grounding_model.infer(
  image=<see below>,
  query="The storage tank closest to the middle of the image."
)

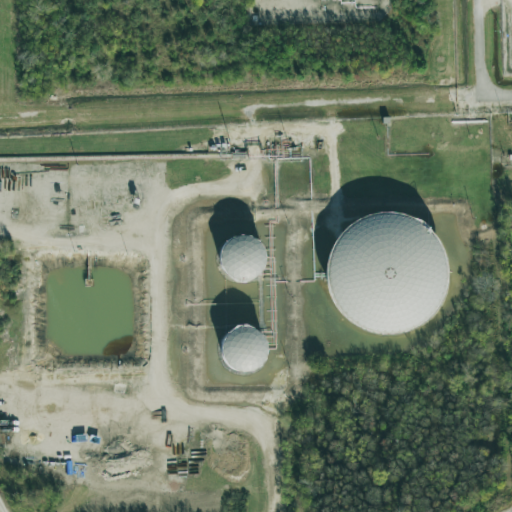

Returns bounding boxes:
[218,236,268,284]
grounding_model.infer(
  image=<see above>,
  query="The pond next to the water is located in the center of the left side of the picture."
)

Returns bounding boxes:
[45,264,135,357]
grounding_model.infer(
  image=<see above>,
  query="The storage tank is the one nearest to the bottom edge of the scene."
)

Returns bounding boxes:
[220,326,270,374]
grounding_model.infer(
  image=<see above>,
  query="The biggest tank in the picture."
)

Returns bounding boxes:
[326,214,452,335]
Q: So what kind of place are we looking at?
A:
industrial area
